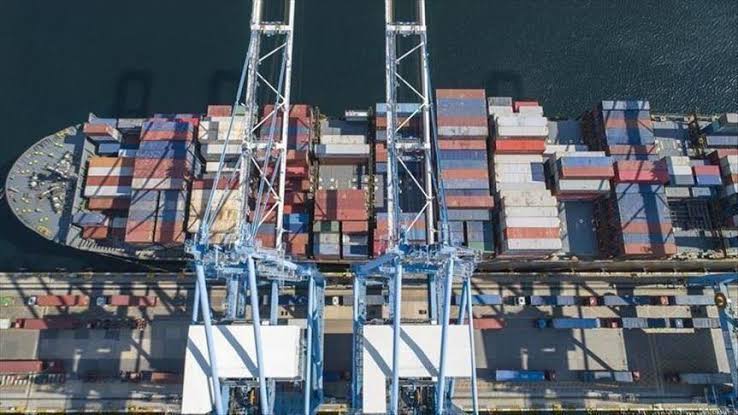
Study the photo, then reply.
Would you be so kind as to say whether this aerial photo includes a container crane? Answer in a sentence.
Yes, there is a container crane in the image.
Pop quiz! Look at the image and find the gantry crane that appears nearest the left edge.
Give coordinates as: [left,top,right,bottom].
[177,0,349,415]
